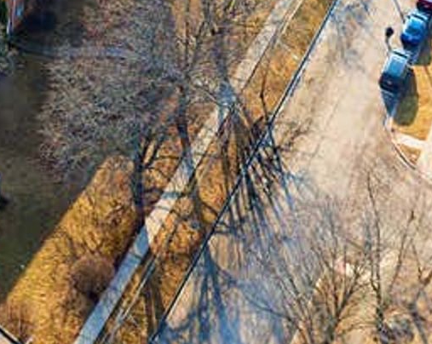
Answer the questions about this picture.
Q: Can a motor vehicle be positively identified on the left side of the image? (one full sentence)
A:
No, there's no motor vehicle to be seen on the left side of the image.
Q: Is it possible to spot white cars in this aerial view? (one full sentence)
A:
No, the scene contains no white car.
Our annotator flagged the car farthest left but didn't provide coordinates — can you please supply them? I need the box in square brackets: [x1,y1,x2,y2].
[380,45,412,90]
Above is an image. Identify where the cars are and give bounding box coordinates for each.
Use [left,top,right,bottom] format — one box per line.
[401,9,430,44]
[412,0,432,12]
[380,45,412,90]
